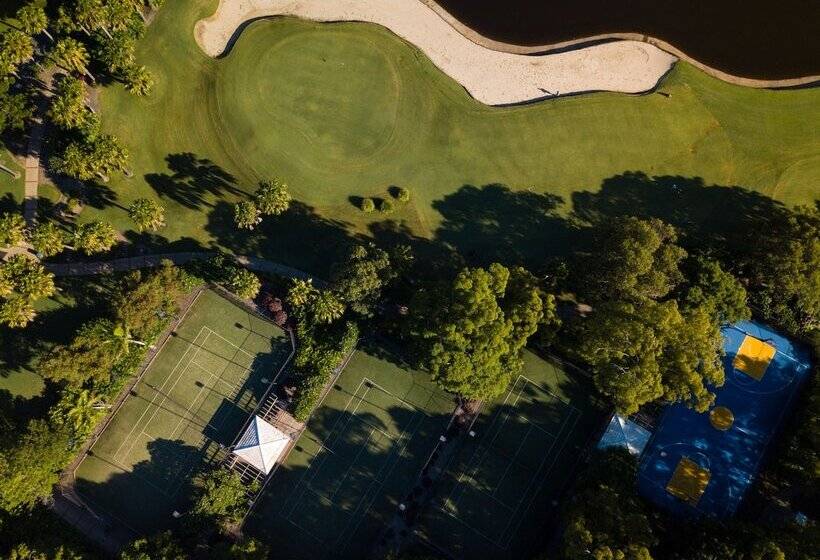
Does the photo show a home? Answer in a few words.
No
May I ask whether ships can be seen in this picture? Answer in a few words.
No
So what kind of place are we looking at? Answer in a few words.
golf course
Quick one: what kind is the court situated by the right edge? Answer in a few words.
basketball court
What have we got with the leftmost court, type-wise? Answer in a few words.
tennis court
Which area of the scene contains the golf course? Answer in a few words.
top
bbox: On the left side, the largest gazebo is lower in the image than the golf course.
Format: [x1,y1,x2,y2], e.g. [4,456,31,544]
[232,416,291,475]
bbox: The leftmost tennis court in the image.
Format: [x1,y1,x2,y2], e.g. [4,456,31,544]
[71,288,296,551]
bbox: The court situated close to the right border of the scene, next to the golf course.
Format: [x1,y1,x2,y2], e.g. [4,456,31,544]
[629,304,818,538]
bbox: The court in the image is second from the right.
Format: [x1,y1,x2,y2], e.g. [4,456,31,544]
[406,341,603,560]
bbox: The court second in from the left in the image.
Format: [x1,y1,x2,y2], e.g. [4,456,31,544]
[239,337,458,560]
